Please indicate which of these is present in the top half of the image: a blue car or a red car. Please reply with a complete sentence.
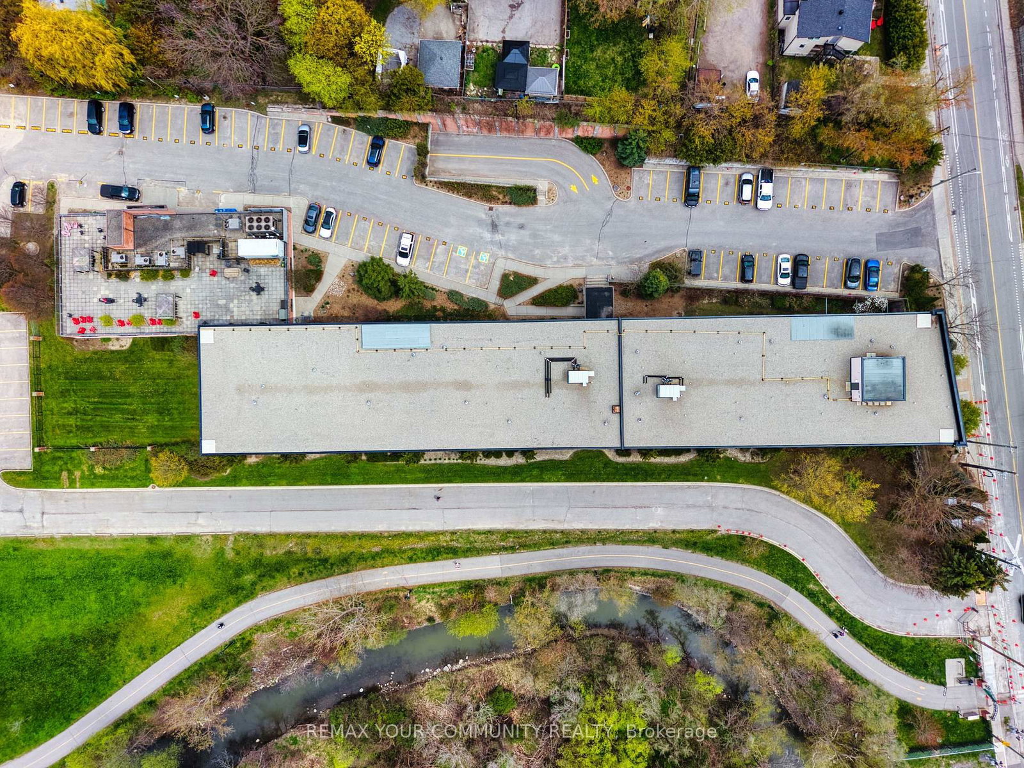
Visible in the top half of the image is a blue car.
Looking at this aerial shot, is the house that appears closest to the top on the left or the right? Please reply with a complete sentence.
The house that appears closest to the top is on the right side of the image.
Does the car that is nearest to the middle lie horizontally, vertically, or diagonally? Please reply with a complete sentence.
From this overhead view, the car that is nearest to the middle appears to run vertically.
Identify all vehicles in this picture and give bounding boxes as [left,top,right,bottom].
[366,135,386,169]
[775,254,792,287]
[116,101,136,136]
[296,123,312,156]
[755,169,775,211]
[84,100,106,136]
[395,230,415,268]
[745,70,762,104]
[319,206,338,240]
[303,202,322,235]
[687,246,703,281]
[683,166,702,207]
[739,252,756,285]
[843,257,861,289]
[9,179,28,210]
[100,184,142,202]
[737,173,754,204]
[199,103,217,136]
[791,253,809,290]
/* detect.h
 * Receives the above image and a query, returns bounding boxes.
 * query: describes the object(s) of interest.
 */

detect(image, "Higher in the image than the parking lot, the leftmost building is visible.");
[419,40,462,95]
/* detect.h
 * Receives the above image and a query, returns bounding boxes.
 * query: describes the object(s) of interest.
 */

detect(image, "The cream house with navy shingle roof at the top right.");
[768,0,874,54]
